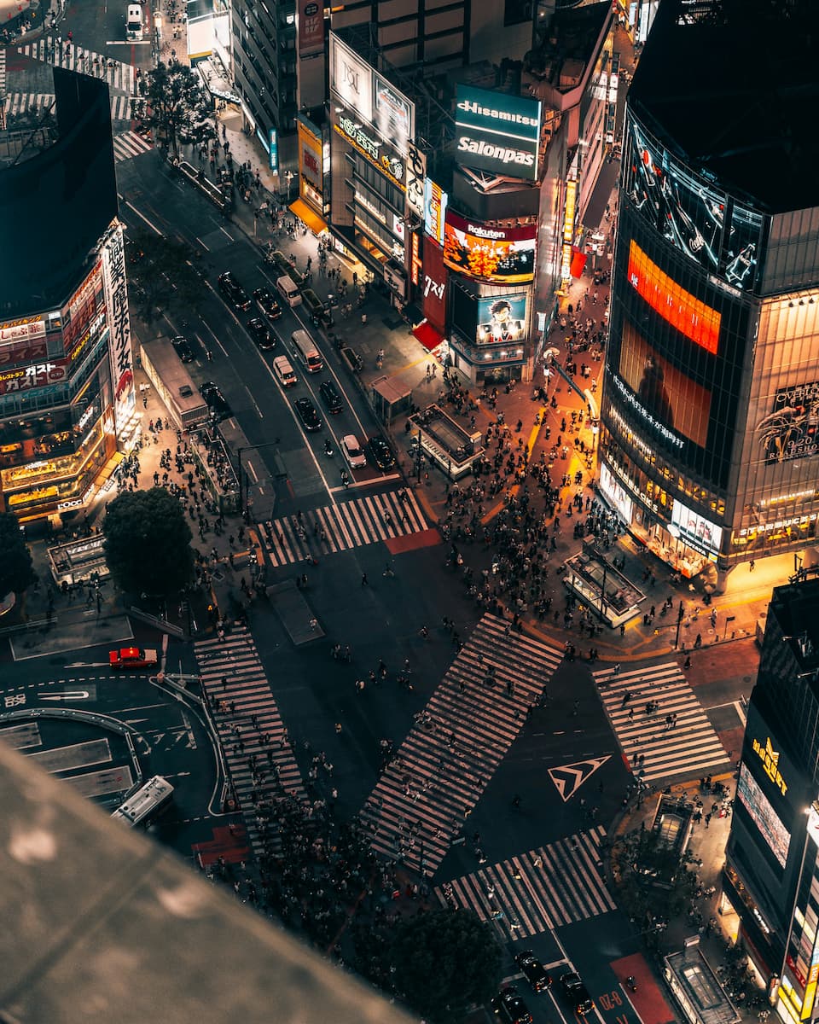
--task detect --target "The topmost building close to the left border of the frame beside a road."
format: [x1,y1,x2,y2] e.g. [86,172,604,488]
[0,100,57,145]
